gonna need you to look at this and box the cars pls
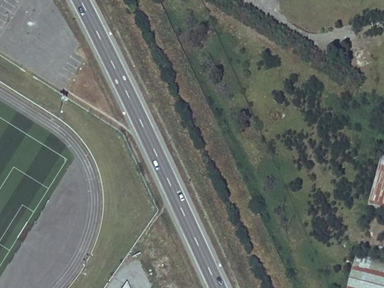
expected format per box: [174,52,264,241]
[216,276,224,286]
[178,190,185,201]
[152,160,159,170]
[78,5,85,16]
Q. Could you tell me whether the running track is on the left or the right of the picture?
left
